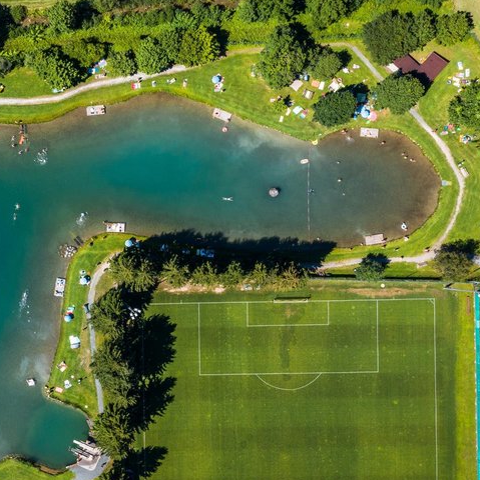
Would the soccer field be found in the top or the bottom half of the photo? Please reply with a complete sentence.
Seen from above, the soccer field lies in the bottom half of the view.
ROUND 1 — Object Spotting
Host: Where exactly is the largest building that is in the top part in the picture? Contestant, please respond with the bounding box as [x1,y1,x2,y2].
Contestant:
[393,50,448,84]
